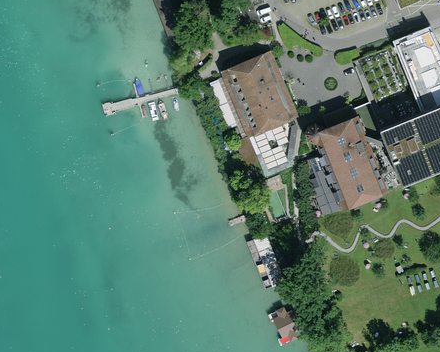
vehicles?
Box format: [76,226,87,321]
[342,16,349,26]
[348,14,354,24]
[257,6,270,16]
[370,7,376,16]
[332,6,338,16]
[258,14,272,23]
[352,0,359,8]
[338,2,345,14]
[314,11,322,22]
[376,4,382,14]
[318,24,326,34]
[364,8,371,20]
[320,8,326,18]
[336,18,343,28]
[353,12,360,22]
[344,0,351,10]
[360,0,366,7]
[326,8,332,18]
[308,14,316,25]
[343,68,354,74]
[358,10,365,21]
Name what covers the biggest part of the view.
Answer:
water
